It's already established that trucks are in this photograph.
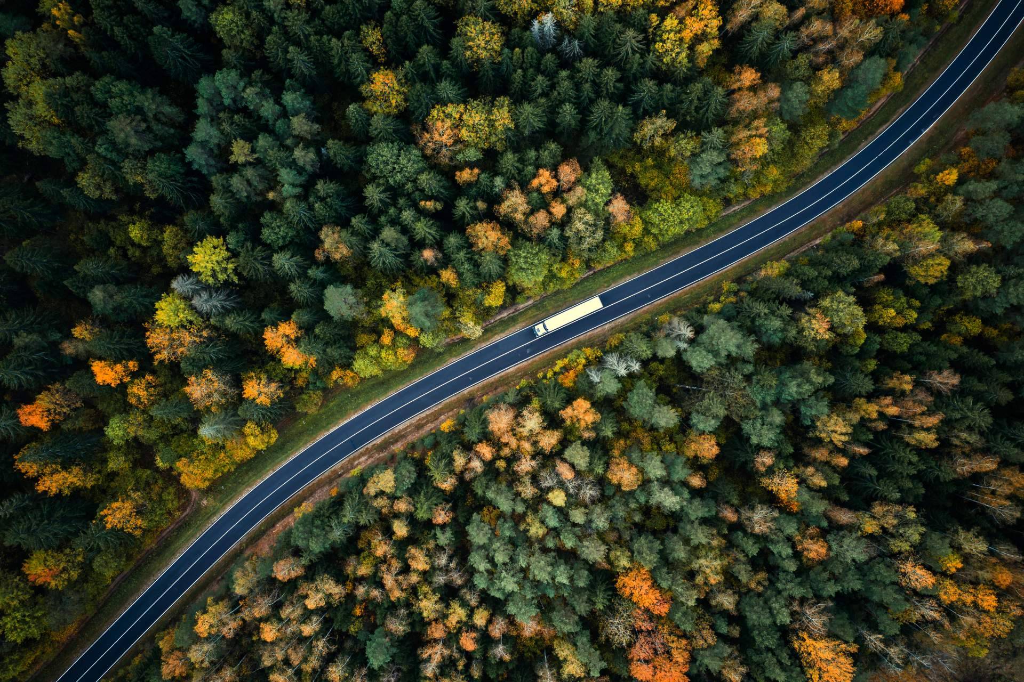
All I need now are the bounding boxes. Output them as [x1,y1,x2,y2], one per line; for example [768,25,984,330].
[531,297,603,338]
